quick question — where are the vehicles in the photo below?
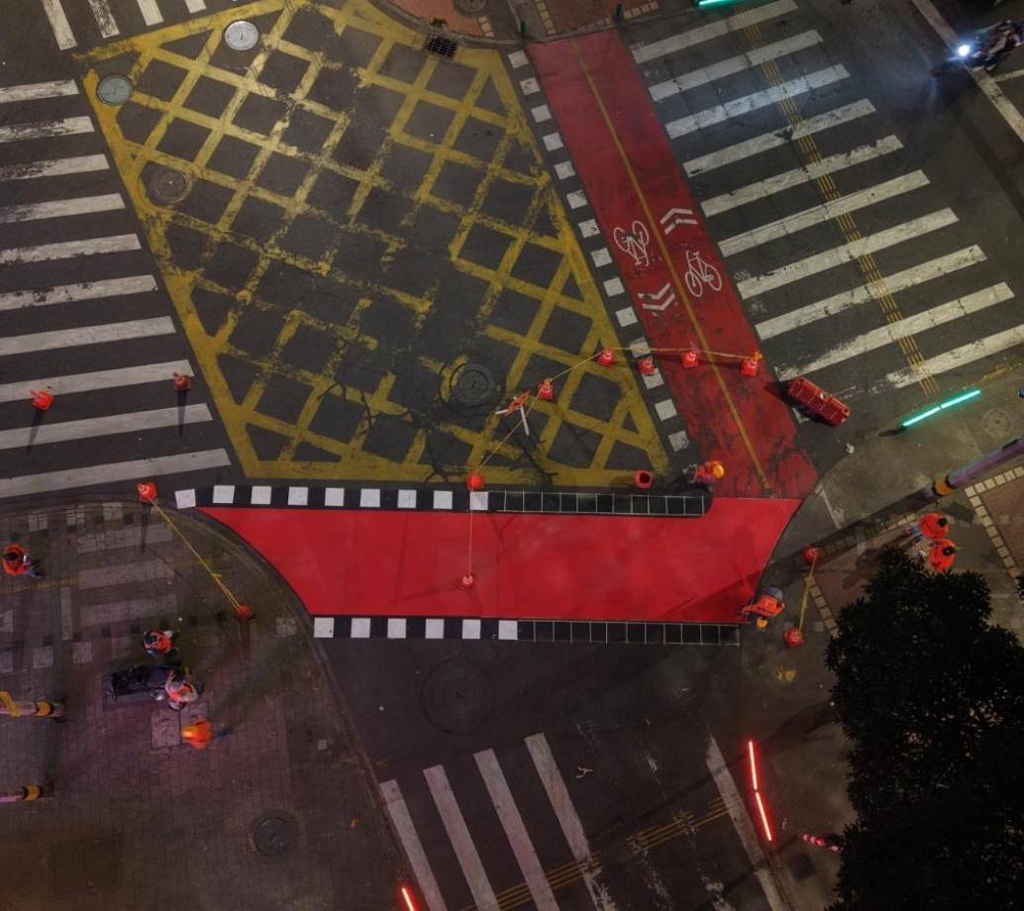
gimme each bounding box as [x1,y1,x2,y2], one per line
[108,651,195,718]
[945,22,1018,77]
